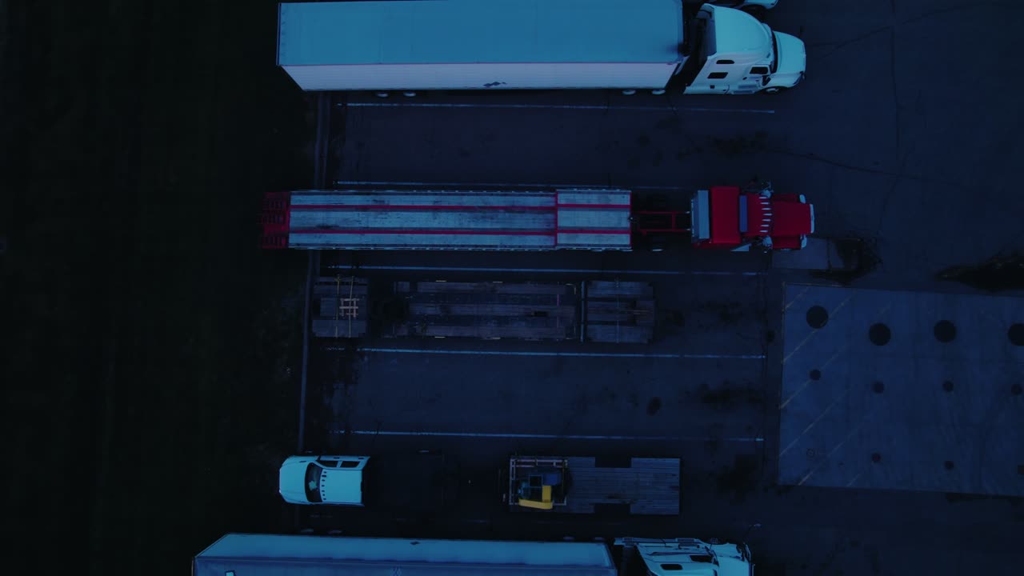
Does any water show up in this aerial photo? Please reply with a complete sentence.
No, there is no water in the image.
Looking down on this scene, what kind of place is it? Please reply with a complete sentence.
This image shows a parking lot.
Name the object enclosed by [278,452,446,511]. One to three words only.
truck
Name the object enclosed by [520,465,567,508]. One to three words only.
work vehicle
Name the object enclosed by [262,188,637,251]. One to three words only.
trailer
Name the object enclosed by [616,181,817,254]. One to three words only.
truck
